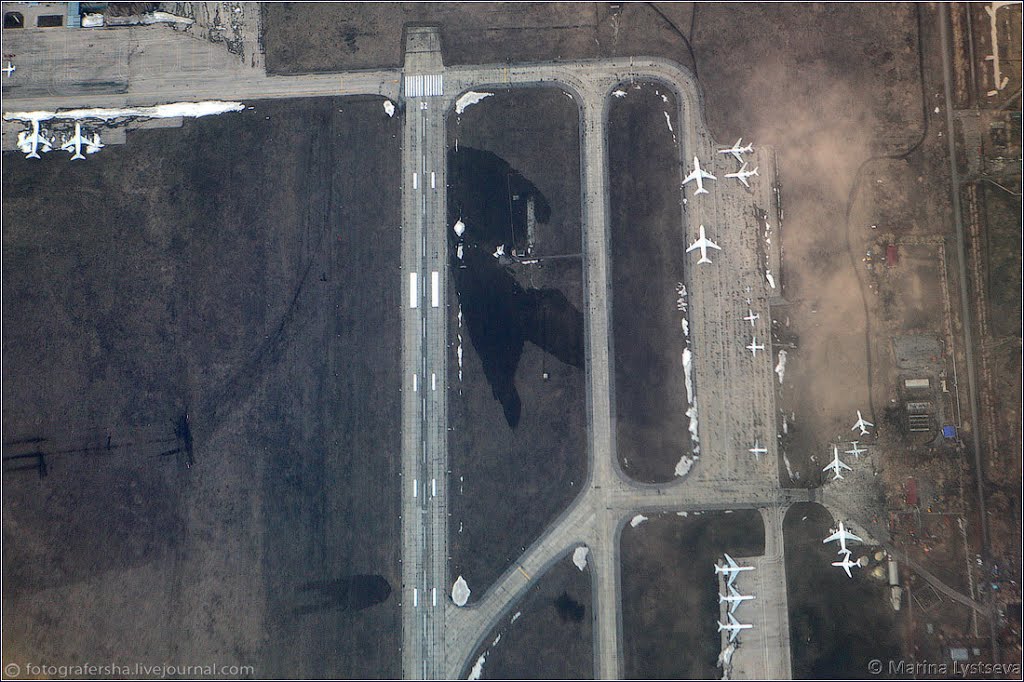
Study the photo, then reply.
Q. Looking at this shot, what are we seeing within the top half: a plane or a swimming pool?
plane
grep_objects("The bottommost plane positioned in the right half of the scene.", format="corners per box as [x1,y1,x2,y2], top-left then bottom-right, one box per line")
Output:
[717,612,753,641]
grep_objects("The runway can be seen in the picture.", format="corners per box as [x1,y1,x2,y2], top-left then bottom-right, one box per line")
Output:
[402,26,447,682]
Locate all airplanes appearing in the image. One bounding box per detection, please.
[852,410,874,436]
[686,225,721,263]
[832,553,863,576]
[749,439,767,461]
[845,442,867,458]
[823,445,852,480]
[718,584,756,611]
[714,553,755,585]
[744,309,759,326]
[61,121,95,160]
[719,137,754,162]
[682,156,717,194]
[725,162,760,187]
[746,337,764,357]
[17,119,50,159]
[717,612,753,641]
[824,521,864,555]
